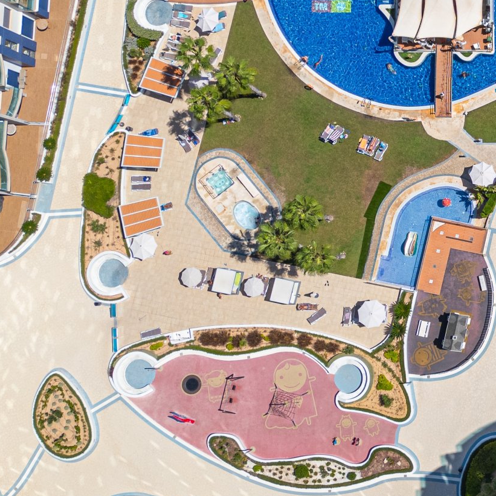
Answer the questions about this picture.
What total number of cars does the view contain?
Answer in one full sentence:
There are no cars in the image.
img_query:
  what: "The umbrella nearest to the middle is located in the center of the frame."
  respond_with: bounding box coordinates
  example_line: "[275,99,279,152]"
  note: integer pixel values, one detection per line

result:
[243,275,266,297]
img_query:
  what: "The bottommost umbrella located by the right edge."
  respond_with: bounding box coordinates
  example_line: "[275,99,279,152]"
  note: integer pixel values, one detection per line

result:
[469,161,496,188]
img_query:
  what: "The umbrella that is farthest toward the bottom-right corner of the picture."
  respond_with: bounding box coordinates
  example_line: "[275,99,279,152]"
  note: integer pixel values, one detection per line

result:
[358,300,386,328]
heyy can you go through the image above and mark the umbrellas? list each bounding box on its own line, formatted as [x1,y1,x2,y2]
[128,232,159,260]
[358,300,386,328]
[181,267,205,288]
[189,72,211,89]
[469,161,496,188]
[197,10,219,31]
[243,275,266,297]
